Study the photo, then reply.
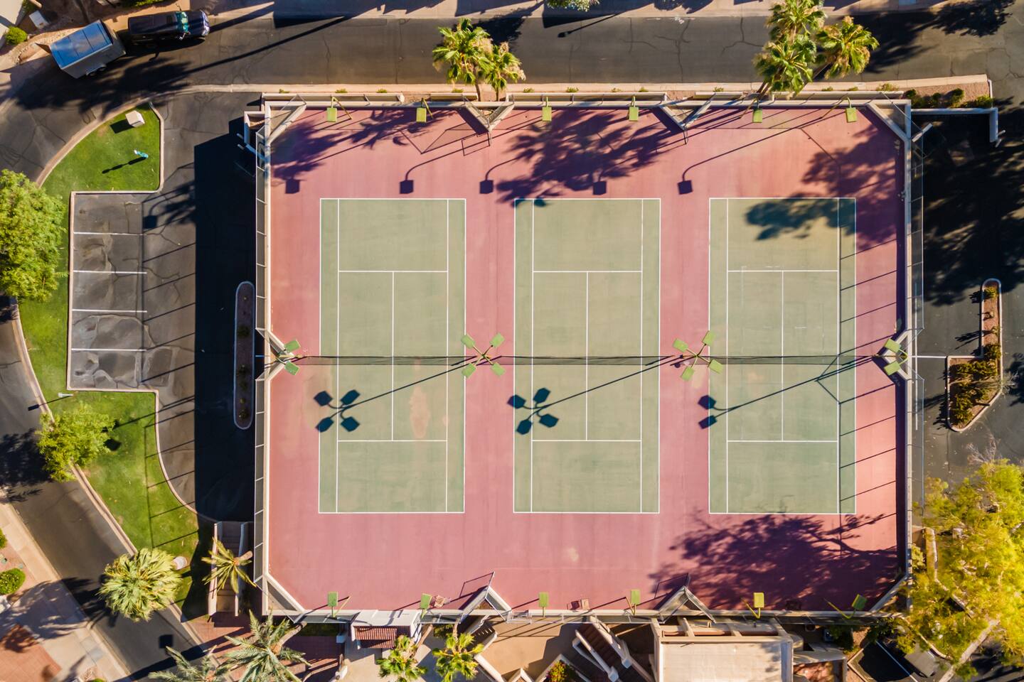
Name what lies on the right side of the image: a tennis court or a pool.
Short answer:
tennis court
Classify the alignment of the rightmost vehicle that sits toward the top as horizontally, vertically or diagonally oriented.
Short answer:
horizontally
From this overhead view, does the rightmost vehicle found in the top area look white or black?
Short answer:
black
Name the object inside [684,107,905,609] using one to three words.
tennis court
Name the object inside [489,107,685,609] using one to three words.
tennis court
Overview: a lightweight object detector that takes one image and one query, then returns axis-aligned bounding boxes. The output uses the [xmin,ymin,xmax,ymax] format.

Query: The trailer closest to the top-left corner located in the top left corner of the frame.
[41,19,129,76]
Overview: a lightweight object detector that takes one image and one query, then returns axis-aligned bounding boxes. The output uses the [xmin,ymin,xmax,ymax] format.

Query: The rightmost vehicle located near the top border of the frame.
[131,10,211,47]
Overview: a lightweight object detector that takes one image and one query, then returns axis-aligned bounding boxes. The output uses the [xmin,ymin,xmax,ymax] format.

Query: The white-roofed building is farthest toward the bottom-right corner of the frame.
[648,615,792,682]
